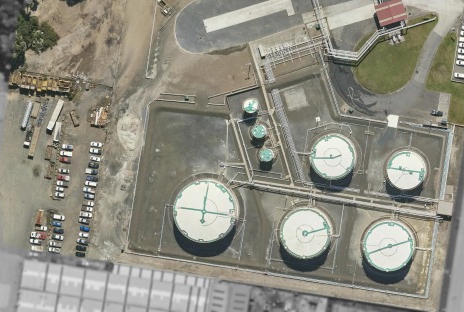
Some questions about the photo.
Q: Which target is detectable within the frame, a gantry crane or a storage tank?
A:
storage tank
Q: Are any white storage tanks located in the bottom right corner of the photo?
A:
Yes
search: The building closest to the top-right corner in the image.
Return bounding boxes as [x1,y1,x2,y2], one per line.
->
[374,0,406,27]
